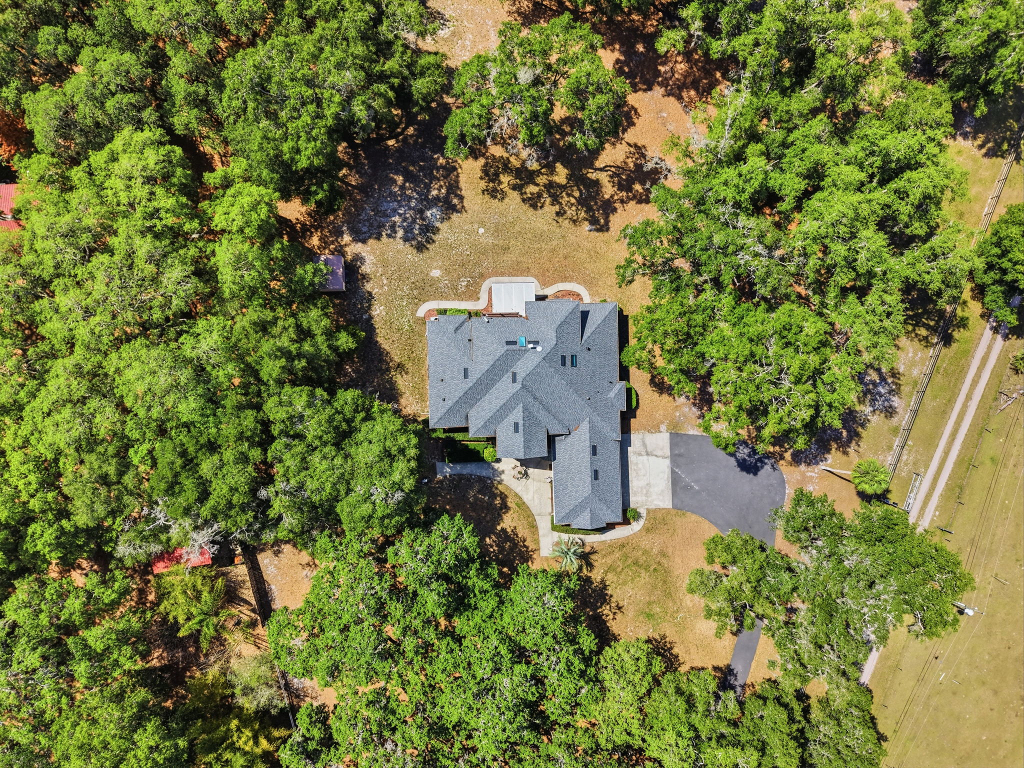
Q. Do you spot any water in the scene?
No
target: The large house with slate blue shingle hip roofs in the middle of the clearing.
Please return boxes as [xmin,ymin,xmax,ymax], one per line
[421,301,626,530]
